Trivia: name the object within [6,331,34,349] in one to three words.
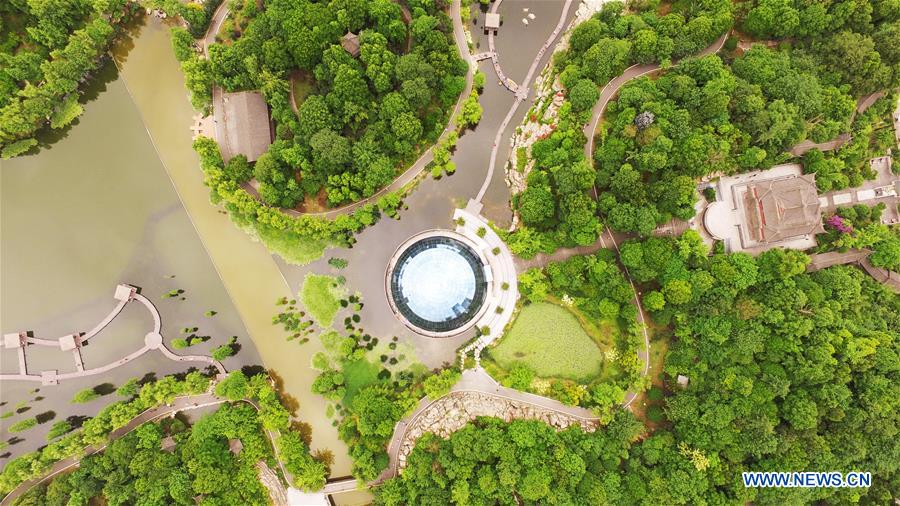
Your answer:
building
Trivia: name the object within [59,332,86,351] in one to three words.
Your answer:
building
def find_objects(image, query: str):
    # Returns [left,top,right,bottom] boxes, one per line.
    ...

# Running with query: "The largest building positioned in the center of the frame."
[385,230,494,338]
